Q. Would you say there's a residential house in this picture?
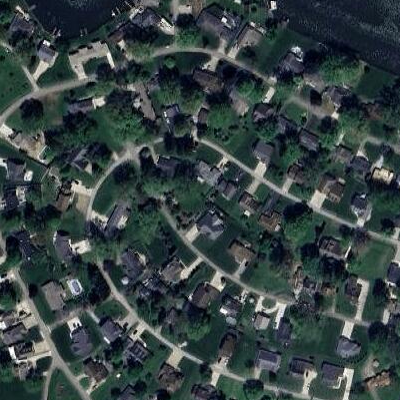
Yes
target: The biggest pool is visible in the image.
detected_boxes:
[66,277,85,299]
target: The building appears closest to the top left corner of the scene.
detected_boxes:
[9,14,36,37]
